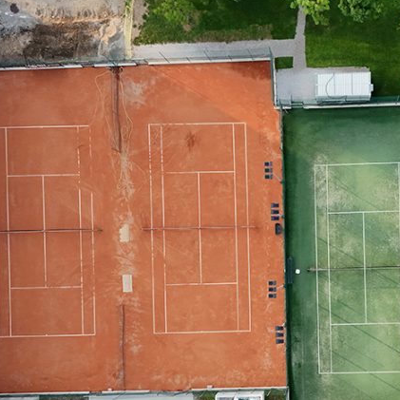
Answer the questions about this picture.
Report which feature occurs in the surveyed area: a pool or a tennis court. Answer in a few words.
tennis court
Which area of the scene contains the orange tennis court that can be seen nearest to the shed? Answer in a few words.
center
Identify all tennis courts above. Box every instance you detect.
[0,64,122,393]
[117,60,287,390]
[283,105,400,400]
